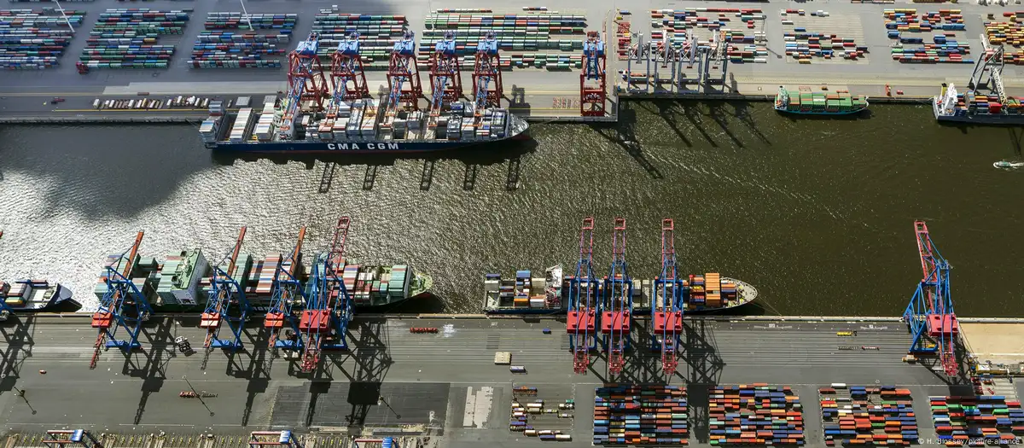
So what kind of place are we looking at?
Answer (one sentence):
It's a port.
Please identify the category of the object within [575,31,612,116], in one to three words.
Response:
container crane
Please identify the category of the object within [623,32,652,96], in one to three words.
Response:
container crane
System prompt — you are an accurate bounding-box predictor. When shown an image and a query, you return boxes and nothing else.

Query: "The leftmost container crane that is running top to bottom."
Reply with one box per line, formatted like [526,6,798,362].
[84,231,159,369]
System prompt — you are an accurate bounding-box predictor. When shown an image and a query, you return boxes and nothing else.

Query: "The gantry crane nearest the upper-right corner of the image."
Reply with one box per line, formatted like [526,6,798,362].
[964,30,1011,99]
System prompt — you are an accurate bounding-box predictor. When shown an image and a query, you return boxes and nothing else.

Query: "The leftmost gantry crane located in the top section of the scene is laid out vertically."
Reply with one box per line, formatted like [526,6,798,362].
[270,31,326,132]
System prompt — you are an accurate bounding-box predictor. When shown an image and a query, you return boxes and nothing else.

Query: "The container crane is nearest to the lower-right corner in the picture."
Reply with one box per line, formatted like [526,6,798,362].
[899,222,961,377]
